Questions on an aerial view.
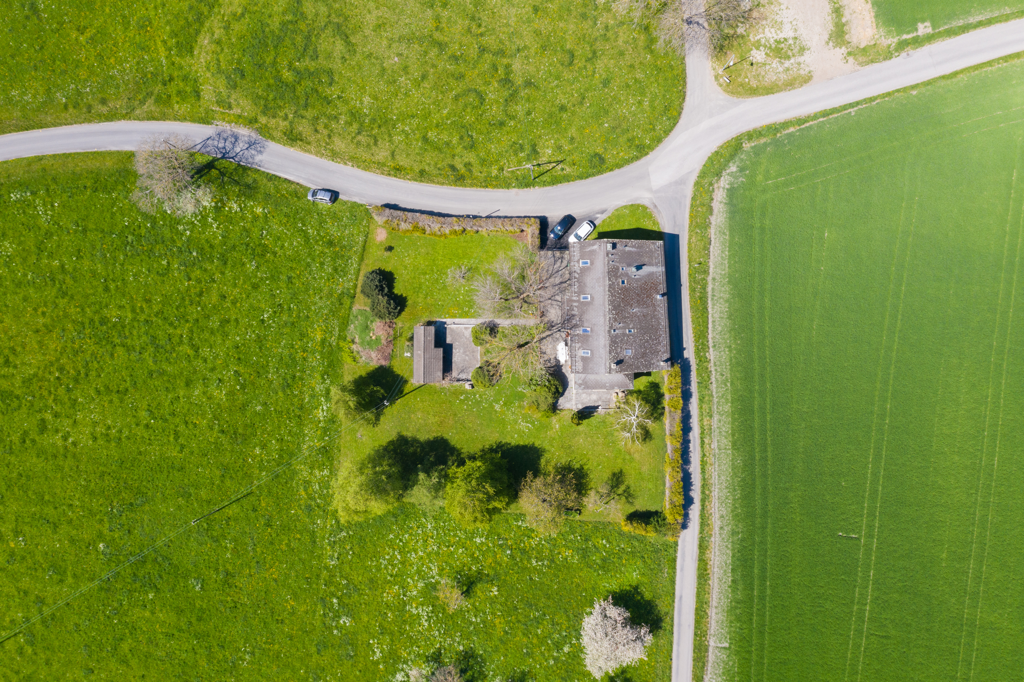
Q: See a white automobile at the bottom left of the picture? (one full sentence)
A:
No, there is no white automobile at the bottom left of the picture.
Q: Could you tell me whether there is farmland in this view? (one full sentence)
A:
Yes, farmland can be seen from above here.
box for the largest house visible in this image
[560,239,671,391]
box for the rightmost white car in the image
[569,218,593,242]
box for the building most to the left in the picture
[412,326,444,383]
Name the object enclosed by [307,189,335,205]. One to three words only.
car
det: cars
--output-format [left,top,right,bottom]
[550,214,574,241]
[307,189,335,205]
[569,218,593,242]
